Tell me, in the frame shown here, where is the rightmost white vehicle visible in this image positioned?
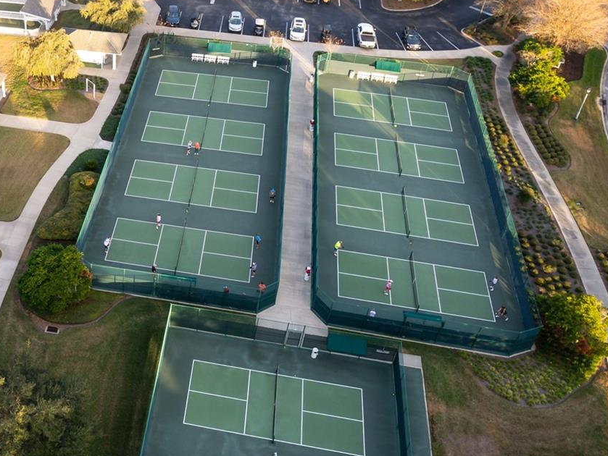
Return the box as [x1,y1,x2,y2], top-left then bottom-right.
[357,23,375,46]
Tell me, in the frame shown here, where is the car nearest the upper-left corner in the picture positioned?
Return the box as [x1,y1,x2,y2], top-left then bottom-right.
[165,5,182,25]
